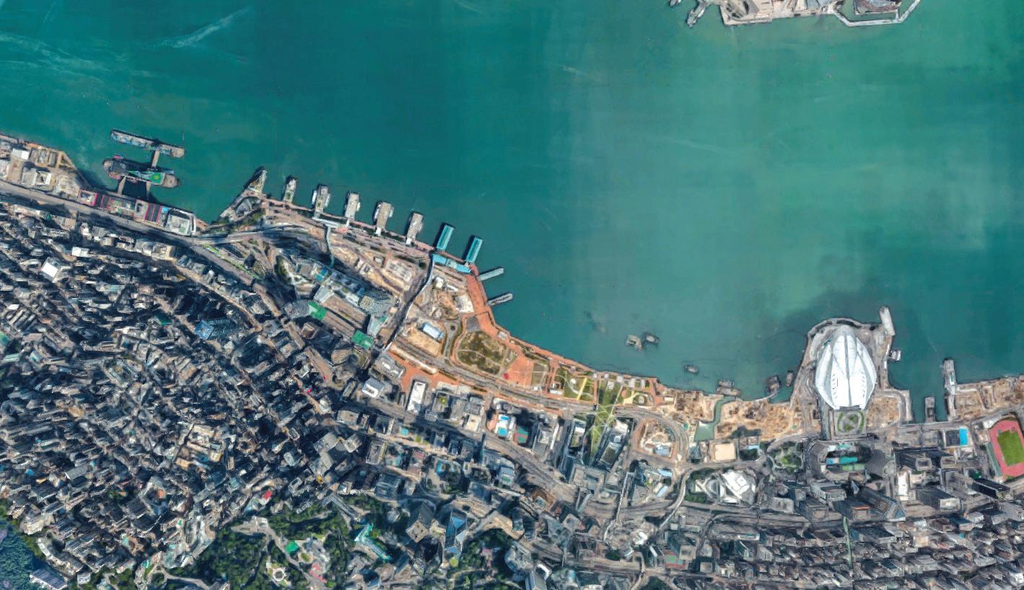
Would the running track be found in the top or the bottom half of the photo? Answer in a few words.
bottom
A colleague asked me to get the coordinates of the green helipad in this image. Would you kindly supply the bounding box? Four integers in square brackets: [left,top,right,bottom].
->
[128,171,165,186]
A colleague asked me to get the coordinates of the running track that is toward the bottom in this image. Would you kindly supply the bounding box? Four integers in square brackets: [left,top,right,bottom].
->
[989,419,1024,481]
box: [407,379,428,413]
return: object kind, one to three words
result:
building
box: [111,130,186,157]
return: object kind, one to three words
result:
pier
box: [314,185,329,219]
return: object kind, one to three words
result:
pier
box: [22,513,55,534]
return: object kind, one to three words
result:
house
